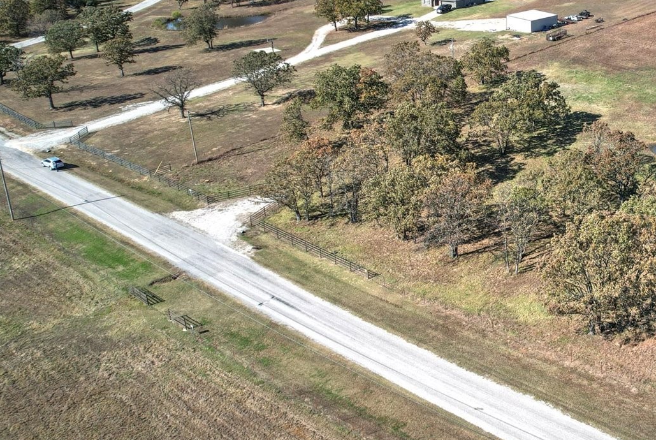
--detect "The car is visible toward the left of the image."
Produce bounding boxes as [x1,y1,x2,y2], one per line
[41,154,65,169]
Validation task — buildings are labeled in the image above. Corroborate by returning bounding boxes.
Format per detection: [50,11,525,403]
[505,11,558,33]
[422,0,482,8]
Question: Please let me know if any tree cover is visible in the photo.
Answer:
Yes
